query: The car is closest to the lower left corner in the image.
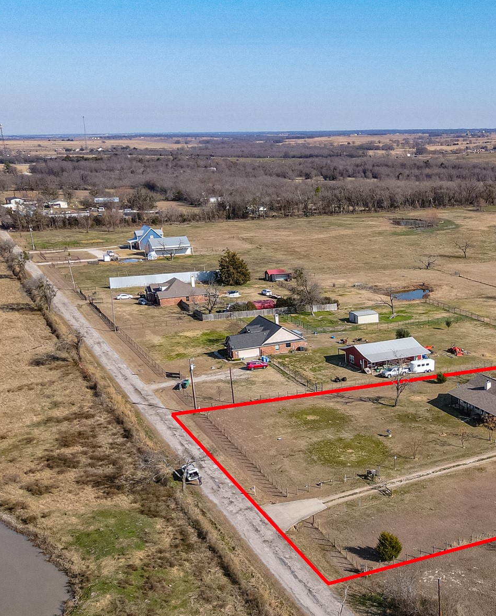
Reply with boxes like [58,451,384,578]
[181,465,199,481]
